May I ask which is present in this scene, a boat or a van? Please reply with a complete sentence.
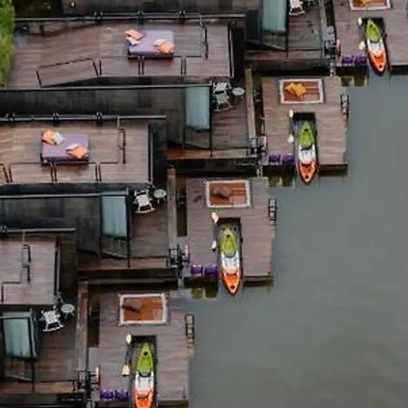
The one in the frame is a boat.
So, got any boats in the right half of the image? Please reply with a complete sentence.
Yes, a boat shows up in the right half of the image.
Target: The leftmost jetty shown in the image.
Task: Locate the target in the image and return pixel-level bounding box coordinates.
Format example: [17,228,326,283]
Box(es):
[85,290,187,408]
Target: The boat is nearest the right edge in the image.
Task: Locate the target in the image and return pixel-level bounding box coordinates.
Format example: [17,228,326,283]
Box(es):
[365,16,388,78]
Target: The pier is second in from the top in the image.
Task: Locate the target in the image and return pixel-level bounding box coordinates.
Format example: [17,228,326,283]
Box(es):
[255,75,348,175]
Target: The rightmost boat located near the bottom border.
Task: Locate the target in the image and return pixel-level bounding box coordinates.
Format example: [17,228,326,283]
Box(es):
[131,340,155,408]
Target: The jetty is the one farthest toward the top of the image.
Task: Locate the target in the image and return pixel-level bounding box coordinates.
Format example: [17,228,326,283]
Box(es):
[328,0,408,76]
